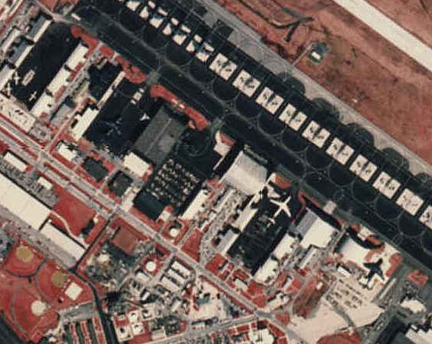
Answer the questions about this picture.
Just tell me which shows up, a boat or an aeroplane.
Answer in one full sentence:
Of the two, only an aeroplane appears.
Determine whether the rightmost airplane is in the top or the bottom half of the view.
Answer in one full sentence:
It is in the bottom half that the rightmost airplane appears.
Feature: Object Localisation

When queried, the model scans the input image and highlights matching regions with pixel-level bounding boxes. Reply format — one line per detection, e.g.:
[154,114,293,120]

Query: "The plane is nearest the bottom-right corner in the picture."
[361,259,382,286]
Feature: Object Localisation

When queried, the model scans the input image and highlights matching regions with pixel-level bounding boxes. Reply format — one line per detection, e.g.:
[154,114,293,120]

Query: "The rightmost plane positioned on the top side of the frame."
[191,35,214,61]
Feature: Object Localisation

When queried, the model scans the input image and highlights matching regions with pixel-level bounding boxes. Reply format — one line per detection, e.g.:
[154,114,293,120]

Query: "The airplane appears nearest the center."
[267,196,289,222]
